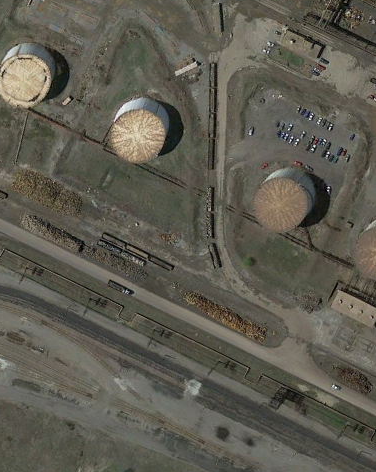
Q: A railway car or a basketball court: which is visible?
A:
railway car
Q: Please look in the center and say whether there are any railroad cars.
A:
Yes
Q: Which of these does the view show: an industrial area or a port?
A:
industrial area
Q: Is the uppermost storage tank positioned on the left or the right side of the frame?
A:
left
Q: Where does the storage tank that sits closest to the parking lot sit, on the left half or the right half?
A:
right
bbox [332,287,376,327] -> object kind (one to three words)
building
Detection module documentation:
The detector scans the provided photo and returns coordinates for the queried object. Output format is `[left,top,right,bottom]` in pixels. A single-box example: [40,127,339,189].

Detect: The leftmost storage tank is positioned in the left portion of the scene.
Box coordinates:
[0,45,59,108]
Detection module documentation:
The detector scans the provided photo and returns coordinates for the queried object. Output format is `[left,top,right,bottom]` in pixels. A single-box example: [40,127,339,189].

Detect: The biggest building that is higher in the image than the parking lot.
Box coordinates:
[277,28,324,59]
